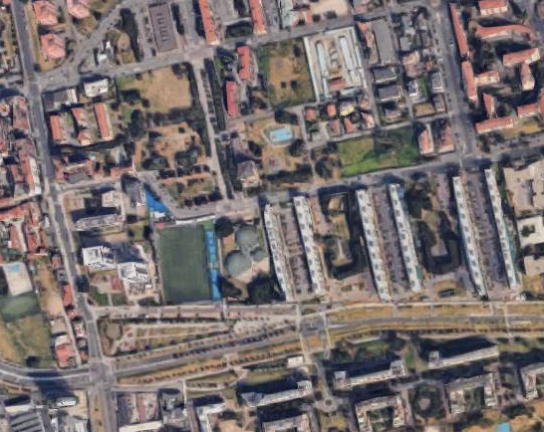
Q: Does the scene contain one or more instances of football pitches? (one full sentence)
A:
Yes, a football pitch can be made out from above.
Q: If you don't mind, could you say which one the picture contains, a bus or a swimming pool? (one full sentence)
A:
The image shows a swimming pool.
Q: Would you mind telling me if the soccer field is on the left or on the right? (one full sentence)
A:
It is on the left.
